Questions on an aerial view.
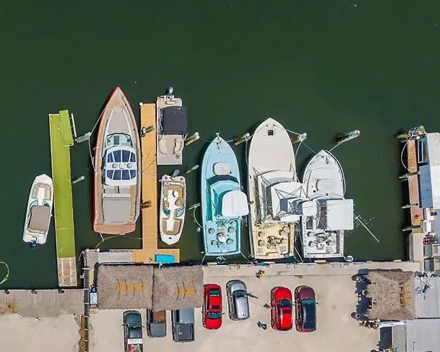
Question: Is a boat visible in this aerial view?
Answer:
Yes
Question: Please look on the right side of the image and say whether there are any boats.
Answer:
Yes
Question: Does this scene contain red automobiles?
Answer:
Yes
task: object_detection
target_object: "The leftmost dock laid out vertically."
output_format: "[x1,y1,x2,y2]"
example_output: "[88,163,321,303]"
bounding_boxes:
[49,113,77,286]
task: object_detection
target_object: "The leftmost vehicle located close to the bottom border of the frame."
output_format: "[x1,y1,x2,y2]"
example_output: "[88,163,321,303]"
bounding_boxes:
[121,310,144,352]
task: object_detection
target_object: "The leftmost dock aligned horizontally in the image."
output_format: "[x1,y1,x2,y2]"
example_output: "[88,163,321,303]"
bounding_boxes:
[0,289,84,309]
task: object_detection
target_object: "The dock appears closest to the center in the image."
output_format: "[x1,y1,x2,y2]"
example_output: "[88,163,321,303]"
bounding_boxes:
[131,103,179,264]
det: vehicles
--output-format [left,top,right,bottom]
[265,285,294,330]
[292,285,318,331]
[224,279,256,320]
[199,282,225,329]
[121,310,144,352]
[144,304,169,344]
[170,309,194,345]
